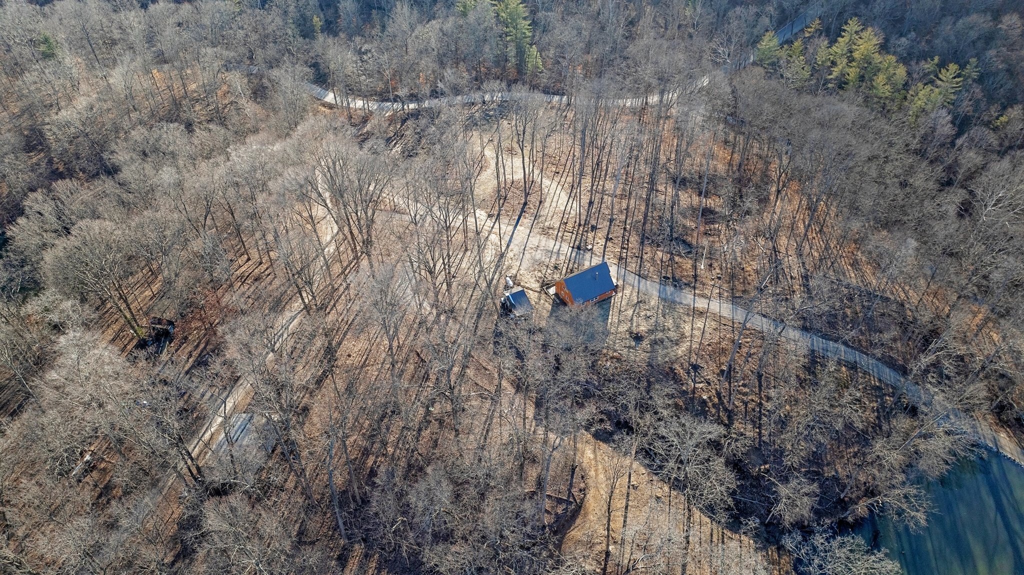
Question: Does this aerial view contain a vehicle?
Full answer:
No, I can see no vehicle in this picture.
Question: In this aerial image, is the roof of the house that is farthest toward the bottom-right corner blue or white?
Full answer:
From above, the roof of the house that is farthest toward the bottom-right corner appears blue.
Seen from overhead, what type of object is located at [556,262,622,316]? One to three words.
house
